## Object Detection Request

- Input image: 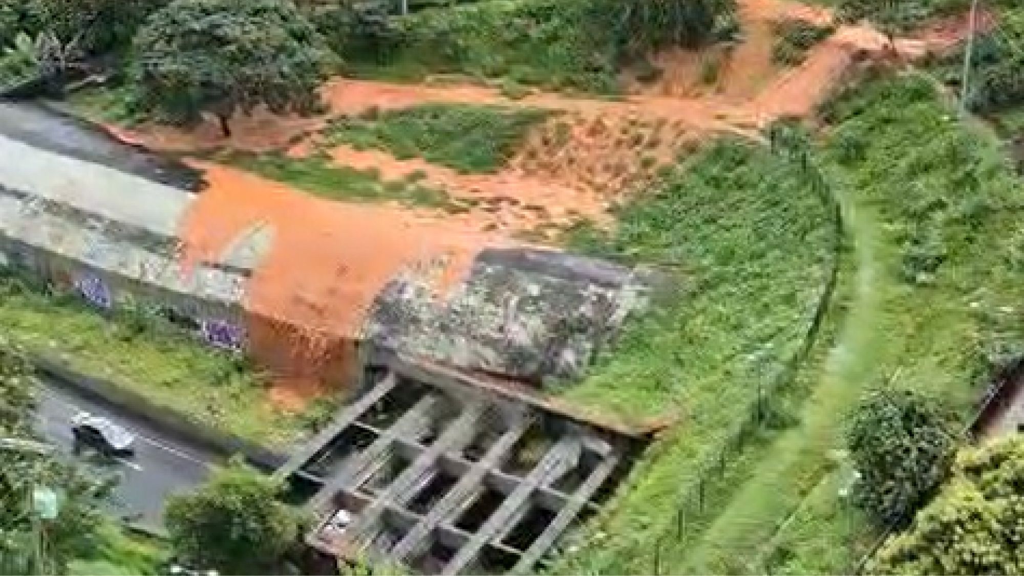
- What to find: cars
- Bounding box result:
[70,408,135,450]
